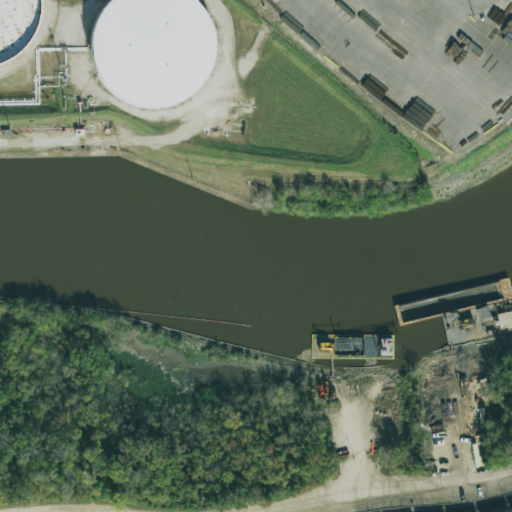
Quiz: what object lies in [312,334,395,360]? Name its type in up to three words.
ship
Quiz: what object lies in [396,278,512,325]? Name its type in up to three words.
ship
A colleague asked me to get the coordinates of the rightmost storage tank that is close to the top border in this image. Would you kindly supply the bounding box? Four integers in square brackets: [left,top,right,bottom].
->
[92,0,220,112]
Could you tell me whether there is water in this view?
Yes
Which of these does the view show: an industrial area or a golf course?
industrial area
